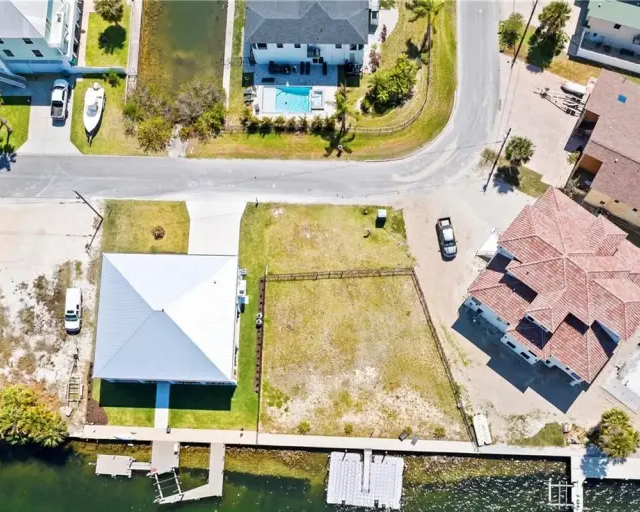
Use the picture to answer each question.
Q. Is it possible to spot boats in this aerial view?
Yes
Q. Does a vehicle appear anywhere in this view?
Yes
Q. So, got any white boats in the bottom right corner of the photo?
No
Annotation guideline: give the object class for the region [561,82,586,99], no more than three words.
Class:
boat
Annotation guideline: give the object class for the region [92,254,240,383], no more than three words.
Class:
house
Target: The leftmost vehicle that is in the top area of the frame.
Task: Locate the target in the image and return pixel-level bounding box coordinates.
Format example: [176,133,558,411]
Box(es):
[49,77,70,121]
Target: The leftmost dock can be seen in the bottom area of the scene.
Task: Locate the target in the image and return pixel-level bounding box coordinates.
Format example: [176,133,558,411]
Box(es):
[92,455,134,480]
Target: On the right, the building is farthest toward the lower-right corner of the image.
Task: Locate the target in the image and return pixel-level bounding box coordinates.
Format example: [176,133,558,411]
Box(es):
[466,187,640,384]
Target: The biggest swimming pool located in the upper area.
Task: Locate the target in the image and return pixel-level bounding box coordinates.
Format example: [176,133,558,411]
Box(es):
[261,84,312,114]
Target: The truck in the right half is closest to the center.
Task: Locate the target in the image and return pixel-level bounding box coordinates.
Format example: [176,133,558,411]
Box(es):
[433,215,459,261]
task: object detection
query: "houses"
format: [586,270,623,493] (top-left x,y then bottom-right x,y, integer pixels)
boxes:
[466,187,640,384]
[576,69,640,226]
[245,0,379,63]
[92,254,240,383]
[0,0,83,91]
[578,0,640,54]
